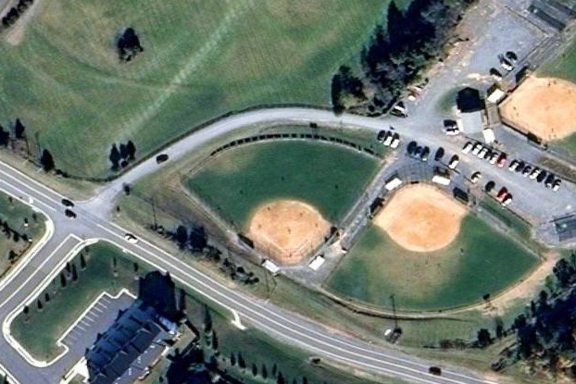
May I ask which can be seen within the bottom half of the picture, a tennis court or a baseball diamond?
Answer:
baseball diamond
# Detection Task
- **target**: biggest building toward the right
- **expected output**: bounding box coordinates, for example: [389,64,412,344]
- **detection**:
[457,112,483,133]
